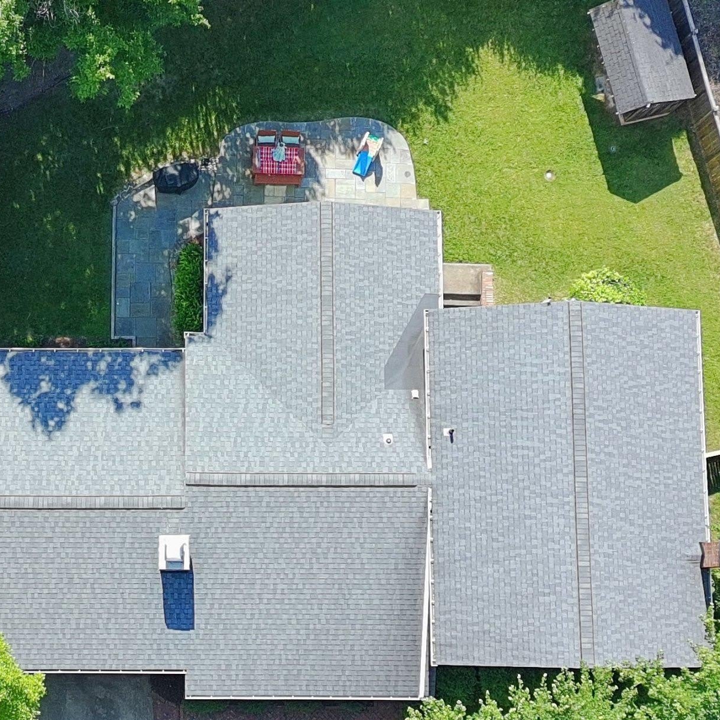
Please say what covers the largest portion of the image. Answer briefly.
buildings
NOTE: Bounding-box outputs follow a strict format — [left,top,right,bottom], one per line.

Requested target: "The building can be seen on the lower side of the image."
[0,201,720,703]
